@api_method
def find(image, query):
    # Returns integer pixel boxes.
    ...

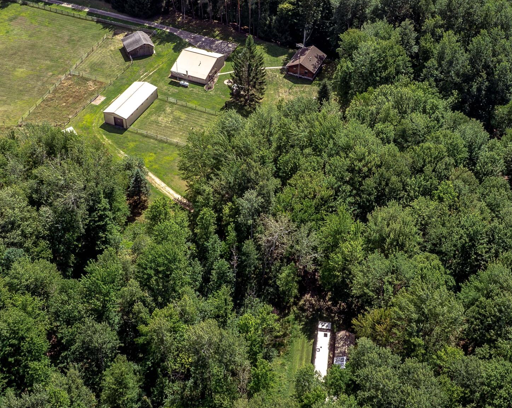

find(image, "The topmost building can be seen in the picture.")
[122,31,154,58]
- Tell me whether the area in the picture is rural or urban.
rural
